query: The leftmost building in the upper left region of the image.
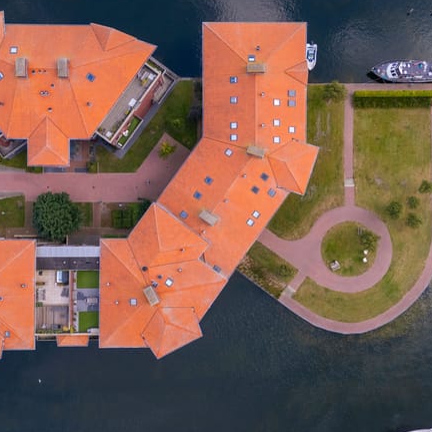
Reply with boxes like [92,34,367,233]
[0,11,156,166]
